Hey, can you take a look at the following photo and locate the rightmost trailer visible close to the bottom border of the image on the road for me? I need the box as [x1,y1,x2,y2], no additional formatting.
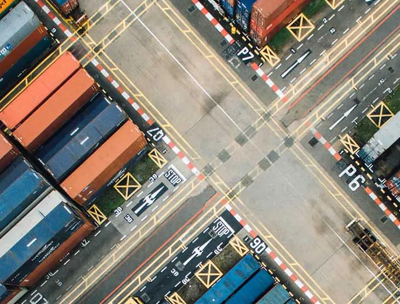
[343,216,400,293]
